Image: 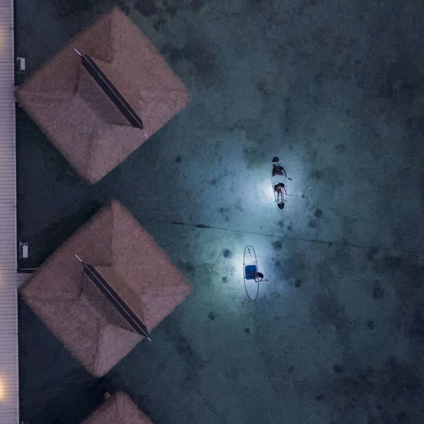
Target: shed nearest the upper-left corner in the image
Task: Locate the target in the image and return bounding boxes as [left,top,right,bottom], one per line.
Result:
[14,6,191,182]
